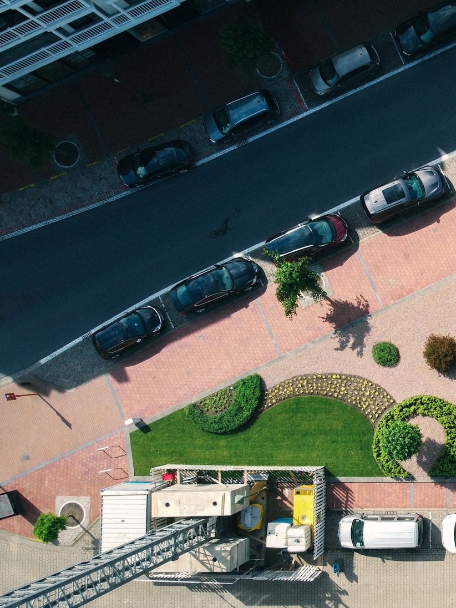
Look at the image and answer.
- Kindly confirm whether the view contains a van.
Yes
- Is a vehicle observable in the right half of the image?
Yes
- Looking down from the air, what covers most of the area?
paved ground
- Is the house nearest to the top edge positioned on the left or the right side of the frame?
left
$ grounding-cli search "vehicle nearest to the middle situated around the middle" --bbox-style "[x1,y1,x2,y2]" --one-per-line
[169,258,264,315]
